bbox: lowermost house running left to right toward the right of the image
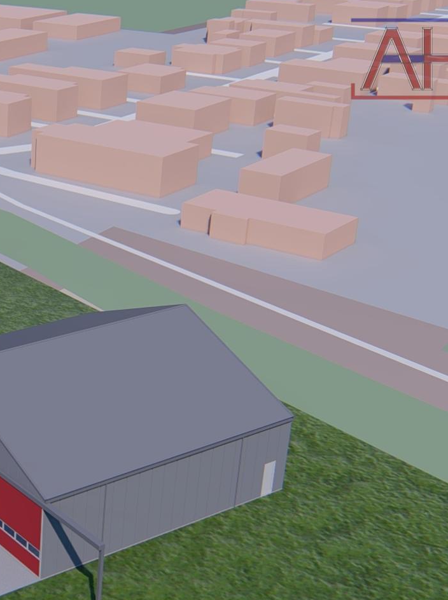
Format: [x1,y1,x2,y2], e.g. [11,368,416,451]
[180,190,358,260]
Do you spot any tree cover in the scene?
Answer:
No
